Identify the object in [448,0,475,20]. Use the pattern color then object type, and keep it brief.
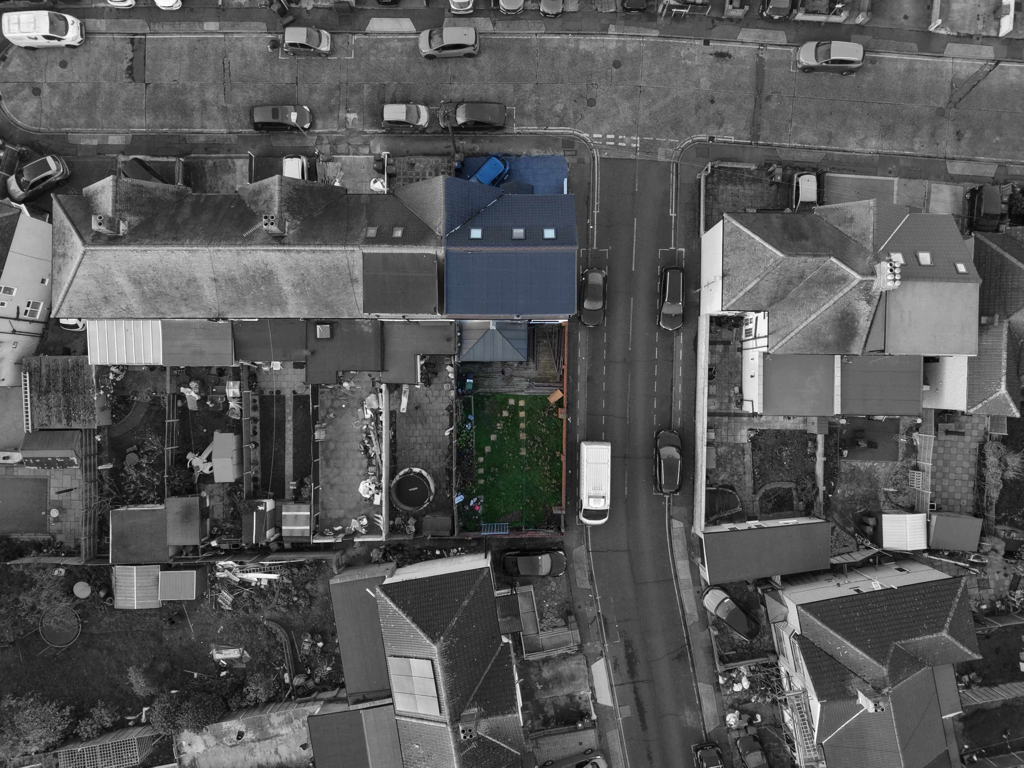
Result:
gray car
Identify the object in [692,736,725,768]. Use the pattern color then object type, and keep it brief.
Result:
black car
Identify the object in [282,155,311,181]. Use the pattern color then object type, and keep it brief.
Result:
white car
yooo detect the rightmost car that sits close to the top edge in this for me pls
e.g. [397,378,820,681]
[795,38,865,77]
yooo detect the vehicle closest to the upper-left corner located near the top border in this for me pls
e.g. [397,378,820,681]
[2,10,90,51]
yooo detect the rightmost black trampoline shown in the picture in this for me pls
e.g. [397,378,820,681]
[387,468,435,516]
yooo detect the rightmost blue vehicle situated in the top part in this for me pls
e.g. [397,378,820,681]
[460,149,512,186]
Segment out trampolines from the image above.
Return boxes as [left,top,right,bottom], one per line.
[387,468,435,516]
[38,602,84,648]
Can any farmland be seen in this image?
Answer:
No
